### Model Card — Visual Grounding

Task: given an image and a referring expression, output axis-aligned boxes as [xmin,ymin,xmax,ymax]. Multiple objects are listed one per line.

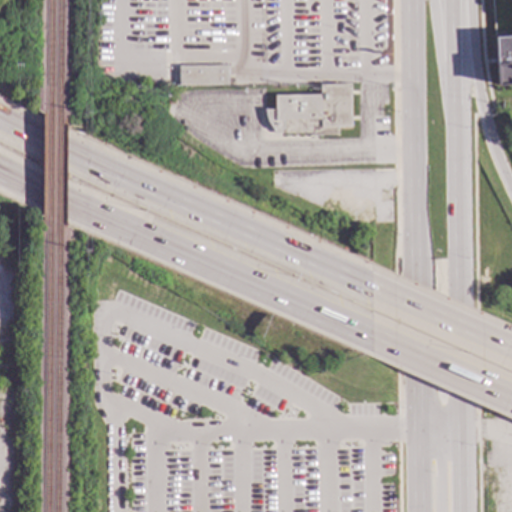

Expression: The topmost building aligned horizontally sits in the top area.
[181,64,231,84]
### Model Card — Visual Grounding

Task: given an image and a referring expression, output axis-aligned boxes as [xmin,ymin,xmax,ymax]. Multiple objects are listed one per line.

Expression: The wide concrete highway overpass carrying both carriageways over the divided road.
[370,262,512,420]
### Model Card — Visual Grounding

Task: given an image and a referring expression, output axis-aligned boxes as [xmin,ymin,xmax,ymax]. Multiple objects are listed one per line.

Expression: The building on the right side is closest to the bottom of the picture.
[268,83,354,134]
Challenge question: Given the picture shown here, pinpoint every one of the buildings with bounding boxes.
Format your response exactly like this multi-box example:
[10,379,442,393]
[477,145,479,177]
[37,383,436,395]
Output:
[498,34,512,83]
[181,64,231,84]
[268,83,354,134]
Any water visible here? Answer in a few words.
No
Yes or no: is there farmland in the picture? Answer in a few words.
No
